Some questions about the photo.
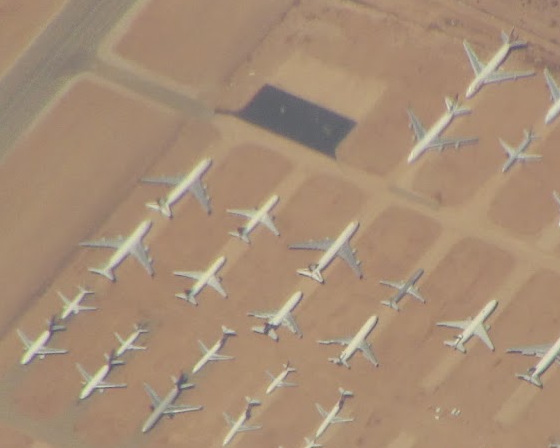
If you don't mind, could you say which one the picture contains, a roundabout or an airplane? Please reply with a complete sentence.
There is an airplane in the scene.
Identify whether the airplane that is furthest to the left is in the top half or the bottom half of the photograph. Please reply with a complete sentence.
You can find the airplane that is furthest to the left in the bottom half.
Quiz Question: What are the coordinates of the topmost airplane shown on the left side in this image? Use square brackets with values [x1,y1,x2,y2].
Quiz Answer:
[141,158,213,218]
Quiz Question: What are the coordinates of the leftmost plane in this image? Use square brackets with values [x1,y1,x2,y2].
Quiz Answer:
[17,316,67,365]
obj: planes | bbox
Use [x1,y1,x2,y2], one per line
[545,68,560,123]
[115,323,147,355]
[17,316,67,365]
[500,128,543,171]
[407,98,478,162]
[289,221,362,284]
[223,398,261,446]
[76,350,125,398]
[305,436,322,448]
[141,158,213,218]
[247,291,302,340]
[60,283,95,318]
[173,256,228,306]
[265,362,296,393]
[141,376,201,431]
[463,30,536,96]
[380,269,426,310]
[80,219,155,281]
[316,390,354,437]
[318,316,378,368]
[436,300,497,352]
[506,337,560,388]
[193,326,232,372]
[227,195,281,243]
